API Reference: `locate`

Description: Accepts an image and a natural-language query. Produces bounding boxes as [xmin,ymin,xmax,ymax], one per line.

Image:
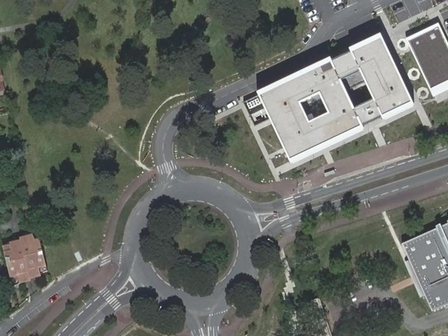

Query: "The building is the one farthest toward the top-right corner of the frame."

[406,24,448,97]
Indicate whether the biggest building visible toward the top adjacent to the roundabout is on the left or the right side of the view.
right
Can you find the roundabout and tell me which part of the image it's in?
bottom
